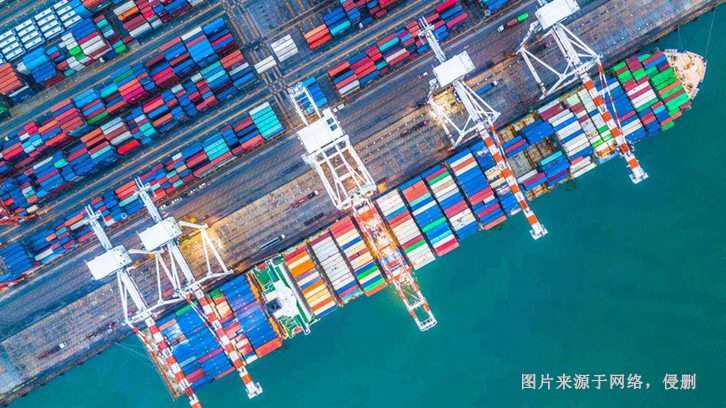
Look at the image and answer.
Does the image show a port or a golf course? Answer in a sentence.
What you see here is a port.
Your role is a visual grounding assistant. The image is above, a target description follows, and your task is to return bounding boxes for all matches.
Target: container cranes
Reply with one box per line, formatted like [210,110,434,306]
[79,202,201,408]
[286,79,439,335]
[507,0,647,184]
[131,174,262,397]
[418,15,548,238]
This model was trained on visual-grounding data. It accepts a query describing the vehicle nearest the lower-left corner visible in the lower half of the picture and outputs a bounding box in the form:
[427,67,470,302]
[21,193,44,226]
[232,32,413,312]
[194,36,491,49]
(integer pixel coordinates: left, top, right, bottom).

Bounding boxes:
[41,341,67,358]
